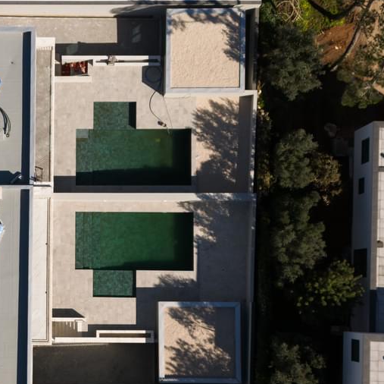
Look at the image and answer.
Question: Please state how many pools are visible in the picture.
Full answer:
In total, 2 pools can be seen.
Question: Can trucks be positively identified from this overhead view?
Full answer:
No, this view has no truck in it.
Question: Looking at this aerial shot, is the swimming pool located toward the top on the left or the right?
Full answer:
You can find the swimming pool located toward the top on the left side of the picture.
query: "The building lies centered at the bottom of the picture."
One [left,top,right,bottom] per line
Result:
[154,302,242,383]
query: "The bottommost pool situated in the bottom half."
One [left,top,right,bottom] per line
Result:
[76,212,194,297]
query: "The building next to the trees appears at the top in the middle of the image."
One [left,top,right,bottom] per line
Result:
[161,8,254,97]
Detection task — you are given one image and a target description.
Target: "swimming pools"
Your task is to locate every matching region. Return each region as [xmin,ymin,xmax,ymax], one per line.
[76,102,192,185]
[76,212,194,297]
